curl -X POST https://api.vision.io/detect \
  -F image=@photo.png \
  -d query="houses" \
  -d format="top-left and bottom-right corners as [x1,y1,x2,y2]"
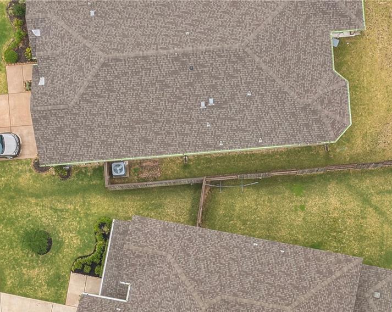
[25,0,367,168]
[77,216,392,312]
